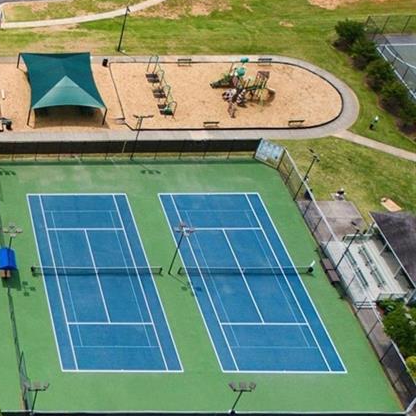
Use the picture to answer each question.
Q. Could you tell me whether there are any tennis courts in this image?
Yes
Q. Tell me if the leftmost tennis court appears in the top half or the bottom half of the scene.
bottom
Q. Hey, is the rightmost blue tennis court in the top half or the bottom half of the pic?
bottom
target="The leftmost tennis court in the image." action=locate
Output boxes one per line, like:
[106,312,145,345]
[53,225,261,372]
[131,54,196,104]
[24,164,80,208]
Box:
[27,193,183,372]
